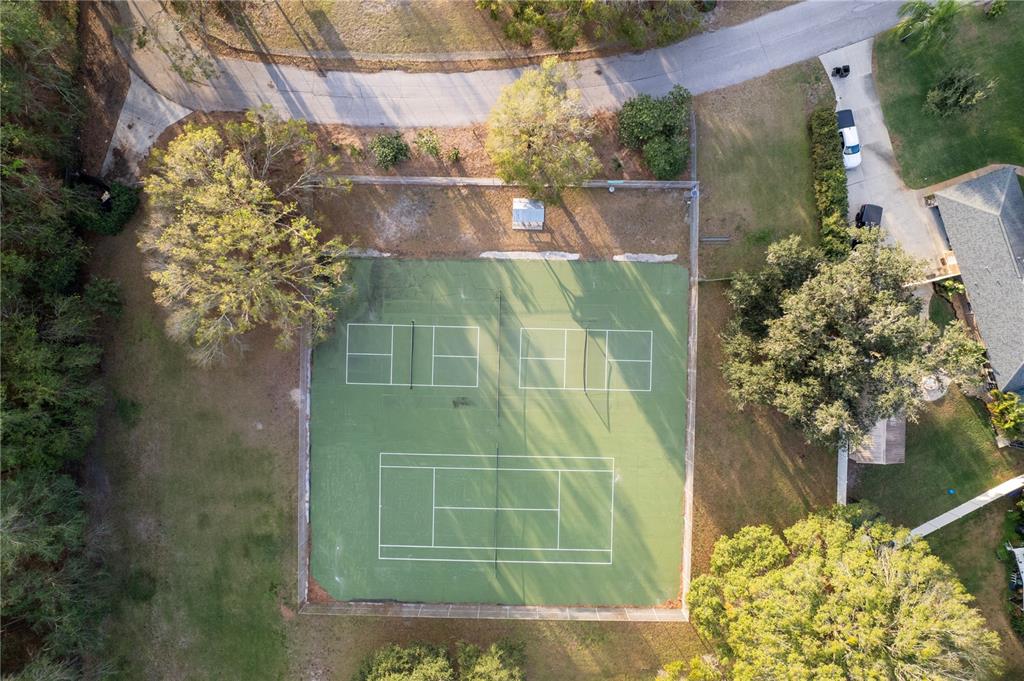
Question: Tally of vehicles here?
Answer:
two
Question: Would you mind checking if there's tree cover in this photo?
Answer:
Yes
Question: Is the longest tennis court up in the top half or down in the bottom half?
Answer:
bottom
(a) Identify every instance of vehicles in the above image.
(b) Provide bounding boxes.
[854,205,882,253]
[832,107,861,170]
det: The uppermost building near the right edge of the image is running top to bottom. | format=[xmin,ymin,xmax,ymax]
[933,168,1024,390]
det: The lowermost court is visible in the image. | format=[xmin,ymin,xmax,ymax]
[379,453,614,565]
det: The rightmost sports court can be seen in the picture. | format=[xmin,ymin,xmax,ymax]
[519,328,653,391]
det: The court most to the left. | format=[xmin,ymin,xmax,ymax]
[345,323,479,387]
